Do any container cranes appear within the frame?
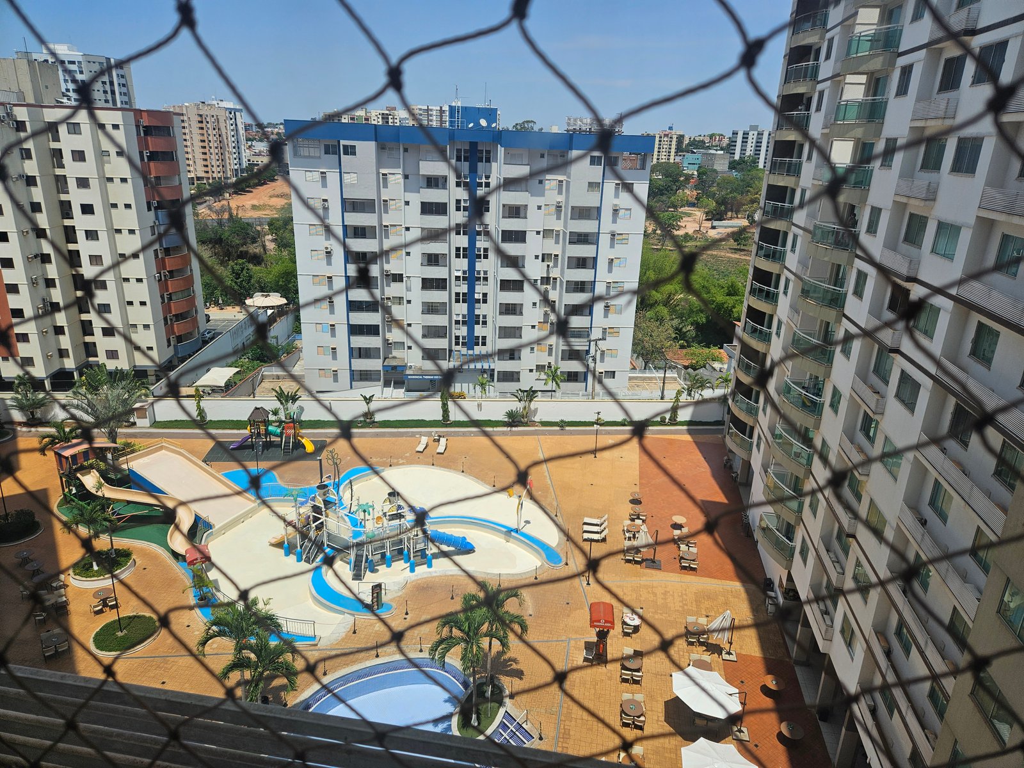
No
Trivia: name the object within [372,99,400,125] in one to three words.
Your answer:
building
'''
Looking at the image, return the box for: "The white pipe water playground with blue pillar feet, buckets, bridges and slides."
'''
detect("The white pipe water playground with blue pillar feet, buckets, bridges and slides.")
[260,472,482,592]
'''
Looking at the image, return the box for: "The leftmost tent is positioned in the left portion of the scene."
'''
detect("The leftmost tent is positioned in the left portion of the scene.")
[191,369,246,395]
